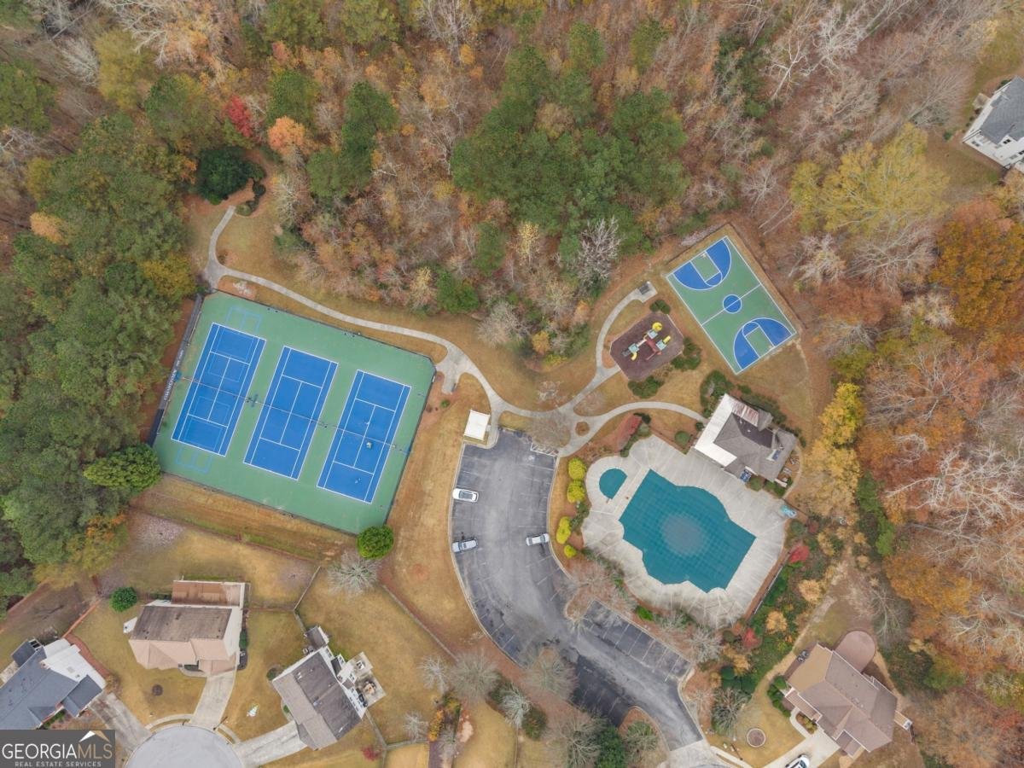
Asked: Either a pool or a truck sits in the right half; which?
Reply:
pool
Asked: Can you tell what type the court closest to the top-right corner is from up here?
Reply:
basketball court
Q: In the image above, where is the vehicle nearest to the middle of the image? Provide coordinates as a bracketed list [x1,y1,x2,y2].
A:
[453,488,478,502]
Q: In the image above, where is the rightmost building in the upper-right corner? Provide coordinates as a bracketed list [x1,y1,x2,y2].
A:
[964,77,1024,173]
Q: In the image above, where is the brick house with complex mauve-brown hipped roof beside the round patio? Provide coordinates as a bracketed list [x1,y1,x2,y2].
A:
[782,643,917,758]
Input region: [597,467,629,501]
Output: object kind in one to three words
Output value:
swimming pool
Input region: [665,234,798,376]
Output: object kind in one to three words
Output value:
basketball court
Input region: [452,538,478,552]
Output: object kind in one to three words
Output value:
car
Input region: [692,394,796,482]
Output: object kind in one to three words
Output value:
building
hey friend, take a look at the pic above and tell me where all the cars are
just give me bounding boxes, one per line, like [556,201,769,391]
[525,533,550,546]
[452,538,478,552]
[453,488,478,502]
[786,754,812,768]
